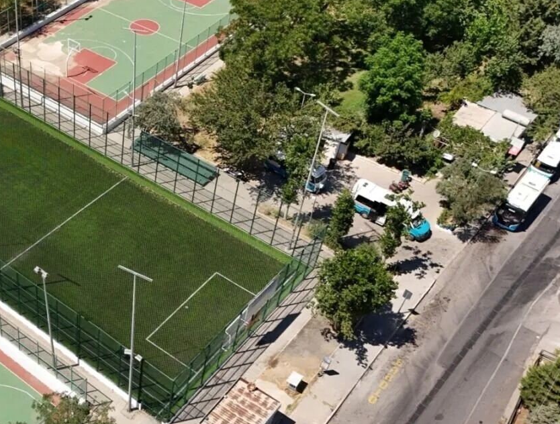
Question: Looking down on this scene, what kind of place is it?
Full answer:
This looks like a sports ground.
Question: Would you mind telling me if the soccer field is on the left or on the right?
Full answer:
The soccer field sits on the left side.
